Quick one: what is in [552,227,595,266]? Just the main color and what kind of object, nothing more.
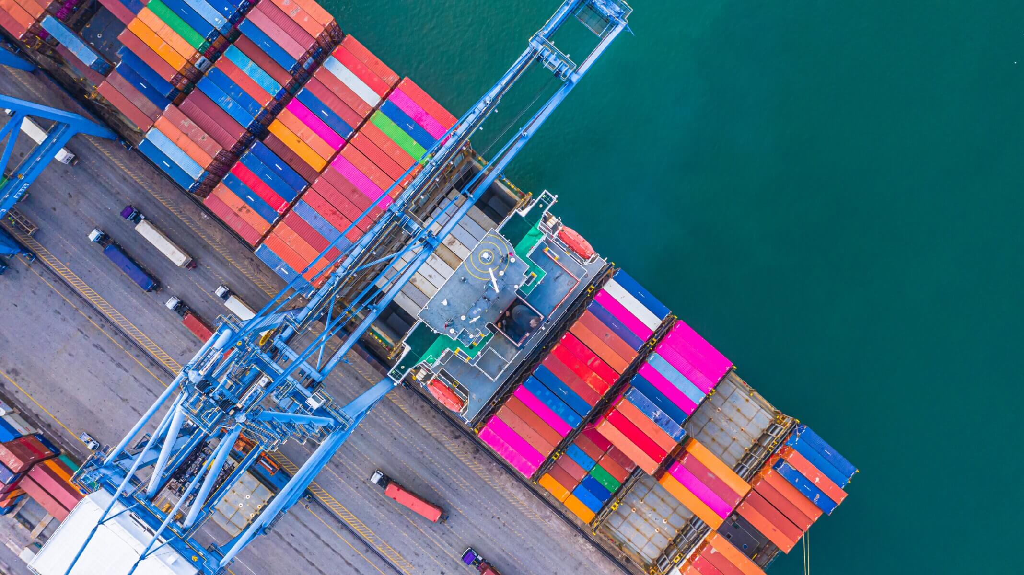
red boat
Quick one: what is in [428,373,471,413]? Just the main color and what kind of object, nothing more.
red boat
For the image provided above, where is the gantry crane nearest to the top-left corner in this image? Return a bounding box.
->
[0,50,134,266]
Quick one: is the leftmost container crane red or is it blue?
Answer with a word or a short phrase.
blue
